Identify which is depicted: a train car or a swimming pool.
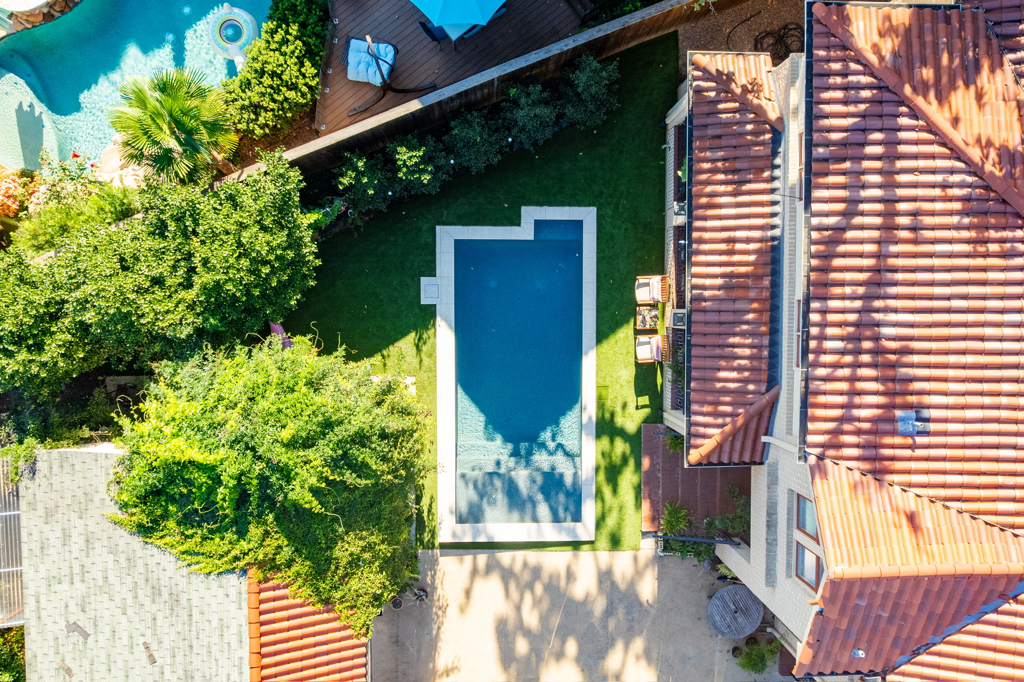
swimming pool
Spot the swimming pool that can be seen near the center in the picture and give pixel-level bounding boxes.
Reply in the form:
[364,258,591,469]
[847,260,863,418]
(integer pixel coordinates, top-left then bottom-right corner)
[421,207,595,542]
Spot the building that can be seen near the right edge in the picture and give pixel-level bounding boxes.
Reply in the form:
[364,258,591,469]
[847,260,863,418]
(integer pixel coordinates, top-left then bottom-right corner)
[663,0,1024,682]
